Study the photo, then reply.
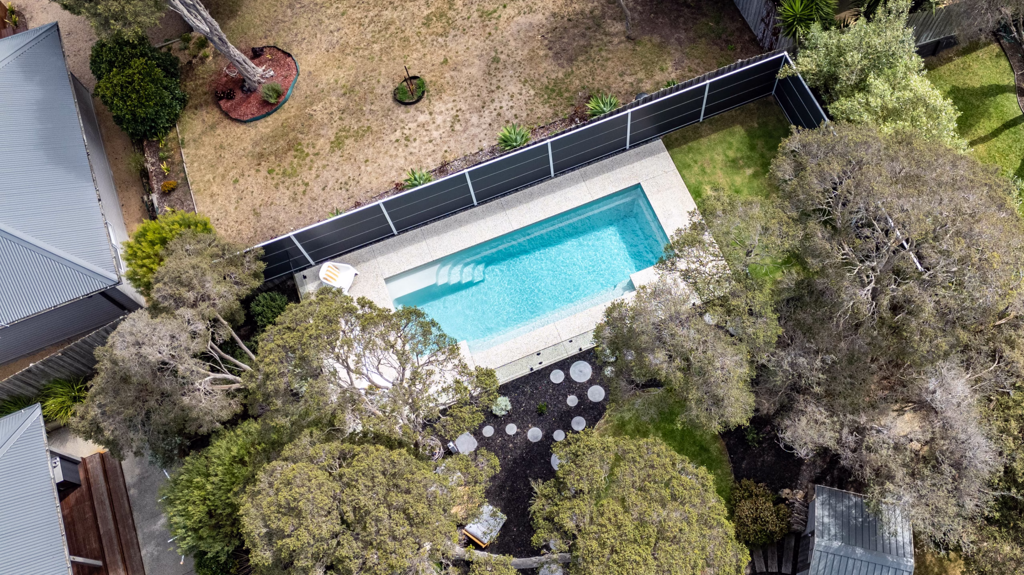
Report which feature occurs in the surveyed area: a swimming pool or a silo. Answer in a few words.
swimming pool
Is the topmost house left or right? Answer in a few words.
left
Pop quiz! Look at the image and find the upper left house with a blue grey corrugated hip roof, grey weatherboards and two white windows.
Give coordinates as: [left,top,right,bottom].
[0,15,147,362]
